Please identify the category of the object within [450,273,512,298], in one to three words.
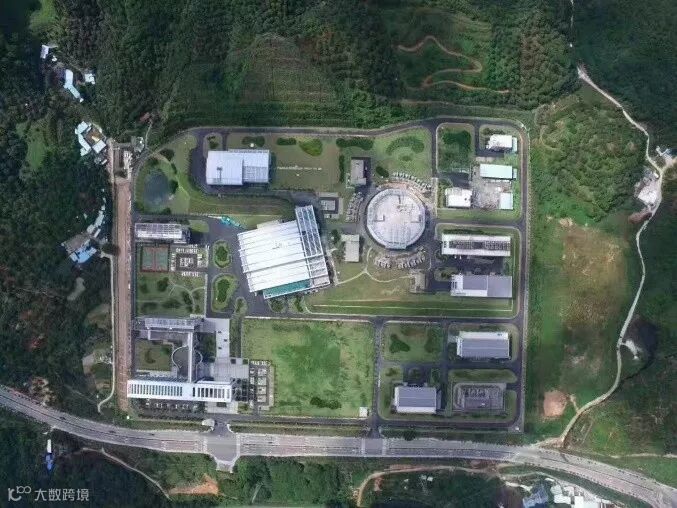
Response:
building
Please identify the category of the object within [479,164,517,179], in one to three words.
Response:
building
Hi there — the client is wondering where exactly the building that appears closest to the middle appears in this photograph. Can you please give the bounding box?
[341,234,359,261]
